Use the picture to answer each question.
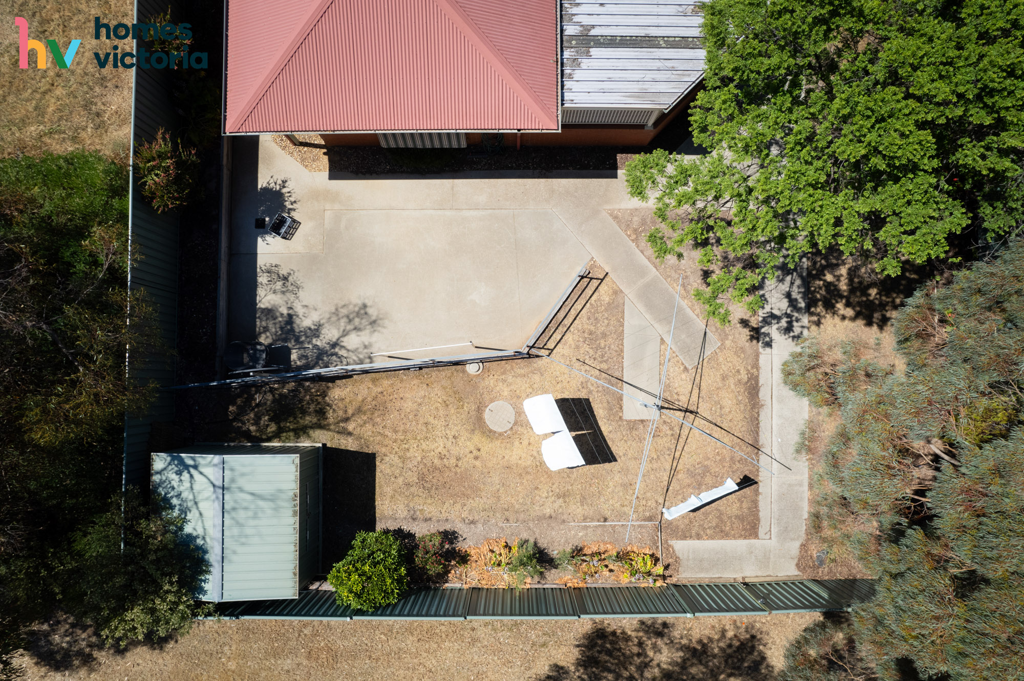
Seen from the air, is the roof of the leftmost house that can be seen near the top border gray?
No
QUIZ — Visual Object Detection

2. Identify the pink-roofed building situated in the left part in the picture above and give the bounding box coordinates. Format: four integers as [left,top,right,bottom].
[222,0,571,150]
